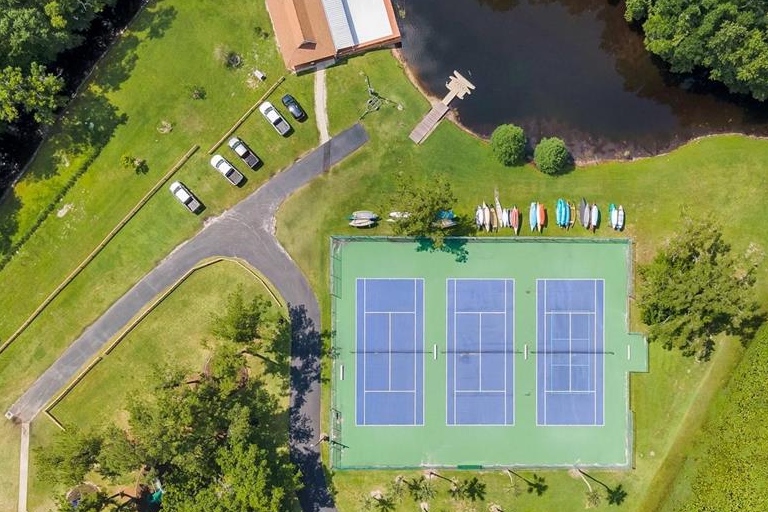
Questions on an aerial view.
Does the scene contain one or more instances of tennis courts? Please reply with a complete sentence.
Yes, the photo shows a tennis court.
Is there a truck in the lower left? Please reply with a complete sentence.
No, no truck appears in the lower left.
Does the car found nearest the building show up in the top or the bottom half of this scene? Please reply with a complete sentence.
You can find the car found nearest the building in the top half.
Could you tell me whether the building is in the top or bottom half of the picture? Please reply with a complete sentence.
The top half of the photo is where the building is.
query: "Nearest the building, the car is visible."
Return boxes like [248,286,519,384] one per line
[282,93,306,121]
